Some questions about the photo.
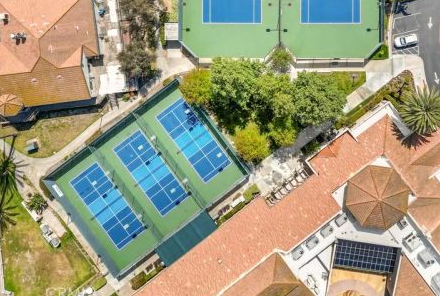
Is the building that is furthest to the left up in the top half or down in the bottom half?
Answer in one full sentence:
The building that is furthest to the left sits in the top half of the picture.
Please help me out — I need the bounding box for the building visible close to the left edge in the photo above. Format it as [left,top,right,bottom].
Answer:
[0,0,103,114]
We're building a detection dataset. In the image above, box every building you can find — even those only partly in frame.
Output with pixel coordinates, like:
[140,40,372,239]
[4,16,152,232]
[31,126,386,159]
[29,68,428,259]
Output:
[165,22,182,41]
[129,101,440,296]
[0,0,103,114]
